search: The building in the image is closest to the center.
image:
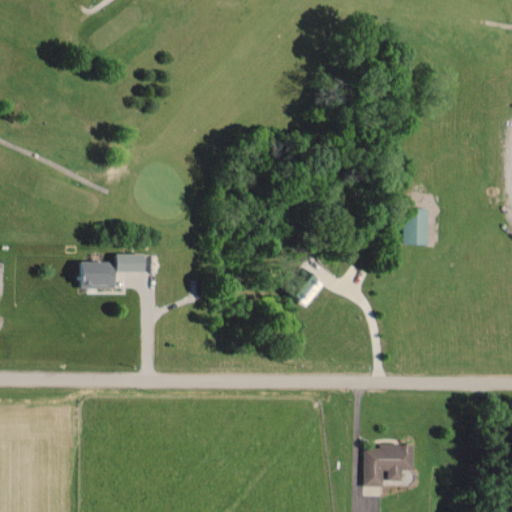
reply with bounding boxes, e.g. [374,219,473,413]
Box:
[295,270,329,307]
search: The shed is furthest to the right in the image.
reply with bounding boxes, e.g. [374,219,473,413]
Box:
[402,208,428,246]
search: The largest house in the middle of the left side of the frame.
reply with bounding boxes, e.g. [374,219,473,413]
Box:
[77,262,116,289]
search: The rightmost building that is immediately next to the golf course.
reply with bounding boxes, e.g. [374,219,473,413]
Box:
[117,254,147,272]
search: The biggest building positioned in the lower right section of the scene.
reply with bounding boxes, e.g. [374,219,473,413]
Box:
[364,444,414,486]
